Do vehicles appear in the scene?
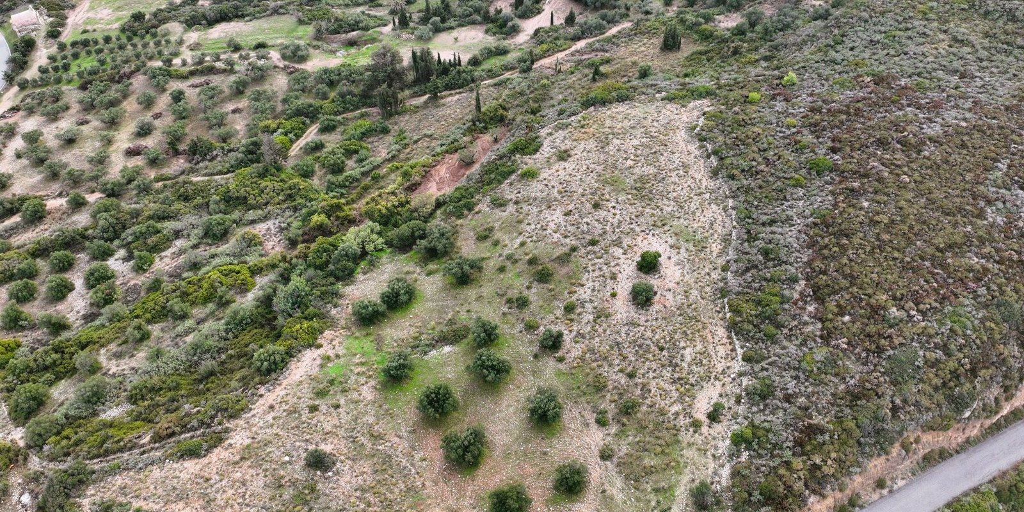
No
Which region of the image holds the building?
top left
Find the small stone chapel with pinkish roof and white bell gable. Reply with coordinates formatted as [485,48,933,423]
[5,3,51,30]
